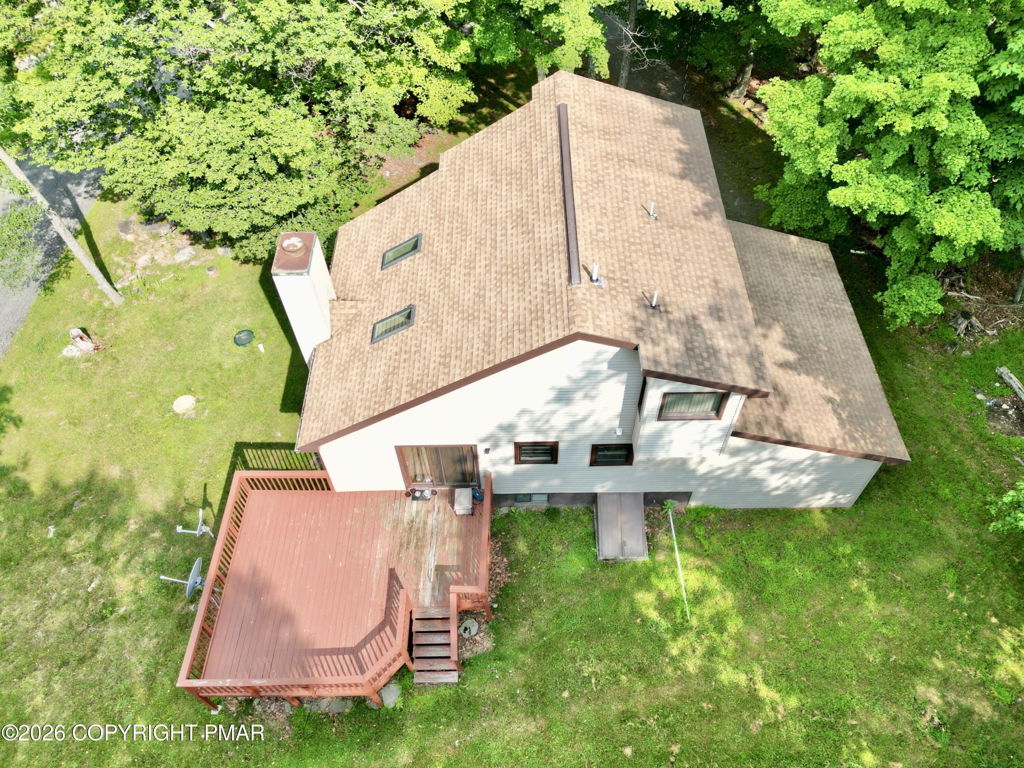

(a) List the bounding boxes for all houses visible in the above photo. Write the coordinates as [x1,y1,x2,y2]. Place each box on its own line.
[267,67,912,508]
